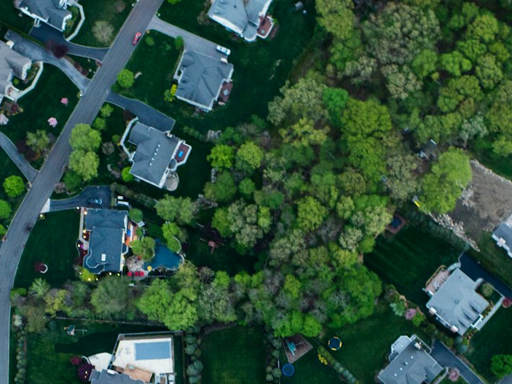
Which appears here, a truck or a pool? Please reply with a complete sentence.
There is a pool in the scene.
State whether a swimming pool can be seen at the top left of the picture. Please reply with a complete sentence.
No, no swimming pool can be made out at the top left of the picture.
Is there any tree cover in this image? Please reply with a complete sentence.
Yes, tree cover shows up in the scene.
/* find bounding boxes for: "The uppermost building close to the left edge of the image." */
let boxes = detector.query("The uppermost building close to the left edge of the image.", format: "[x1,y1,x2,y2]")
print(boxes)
[19,0,74,34]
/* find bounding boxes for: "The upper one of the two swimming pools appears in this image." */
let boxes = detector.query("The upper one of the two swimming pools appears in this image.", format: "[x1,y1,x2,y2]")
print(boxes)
[143,239,183,270]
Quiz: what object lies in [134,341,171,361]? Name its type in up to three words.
swimming pool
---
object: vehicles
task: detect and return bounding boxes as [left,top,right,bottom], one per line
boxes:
[88,198,102,204]
[215,46,231,55]
[132,31,142,44]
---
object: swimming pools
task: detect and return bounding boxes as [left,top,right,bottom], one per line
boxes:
[134,341,171,361]
[143,239,183,270]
